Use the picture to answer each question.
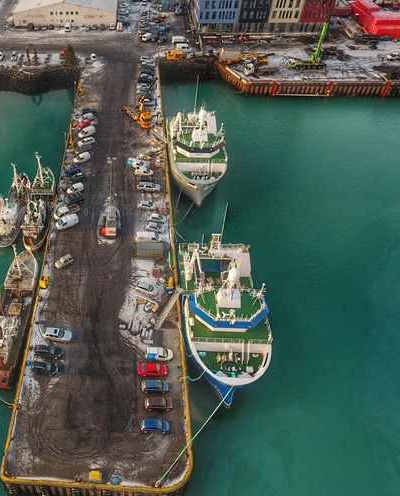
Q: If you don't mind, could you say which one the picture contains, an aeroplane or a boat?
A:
boat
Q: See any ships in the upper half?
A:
Yes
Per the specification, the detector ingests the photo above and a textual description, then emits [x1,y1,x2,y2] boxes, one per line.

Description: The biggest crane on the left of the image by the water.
[119,85,167,133]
